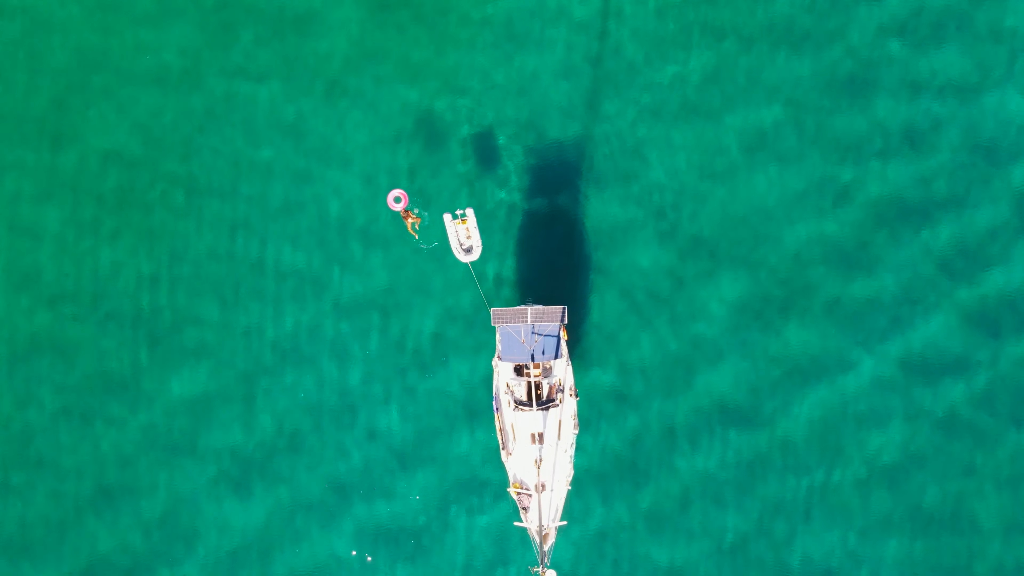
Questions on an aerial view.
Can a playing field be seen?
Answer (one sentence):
No, the scene contains no playing field.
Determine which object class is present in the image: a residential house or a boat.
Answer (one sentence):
Of the two, only a boat appears.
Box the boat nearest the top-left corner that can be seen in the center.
[443,205,481,263]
